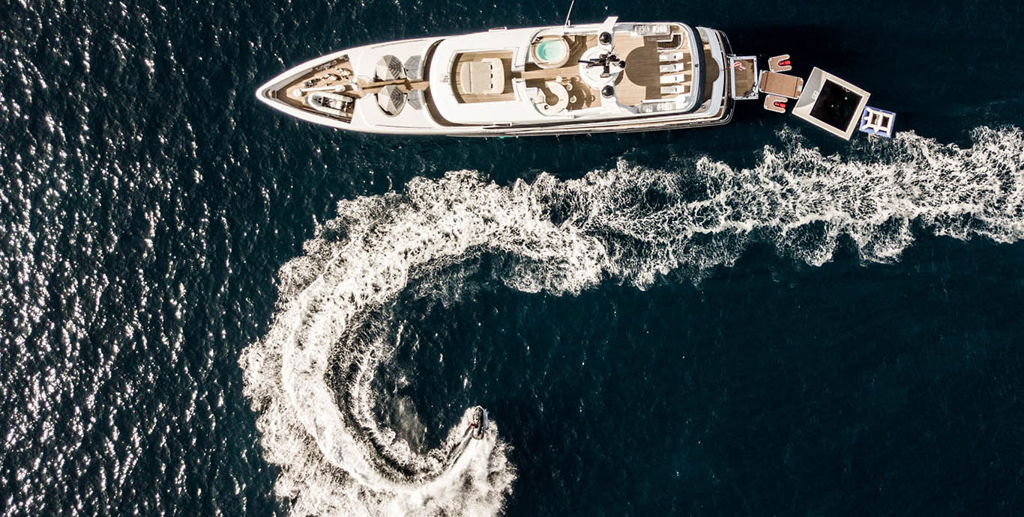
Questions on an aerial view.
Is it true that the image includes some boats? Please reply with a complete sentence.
Yes, there's a boat down there.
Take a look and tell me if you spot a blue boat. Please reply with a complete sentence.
No, no blue boat is visible in the view.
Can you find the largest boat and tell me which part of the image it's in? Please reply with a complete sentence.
The largest boat is in the top part of the image.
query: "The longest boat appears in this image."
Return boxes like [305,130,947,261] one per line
[254,2,736,139]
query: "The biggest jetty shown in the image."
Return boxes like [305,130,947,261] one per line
[732,53,758,100]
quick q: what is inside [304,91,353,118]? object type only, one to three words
boat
